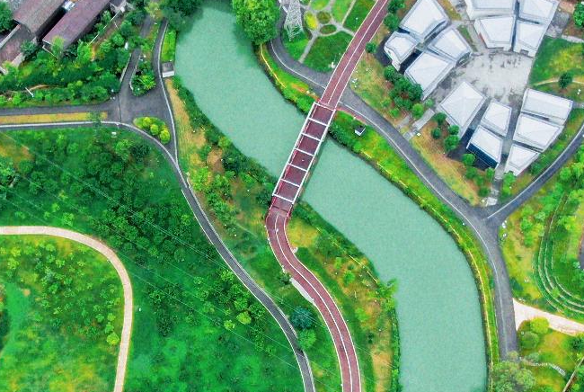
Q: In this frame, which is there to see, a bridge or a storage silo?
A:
bridge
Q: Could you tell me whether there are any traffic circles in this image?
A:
No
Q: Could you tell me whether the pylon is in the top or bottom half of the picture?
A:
top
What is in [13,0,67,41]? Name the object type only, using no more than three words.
building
